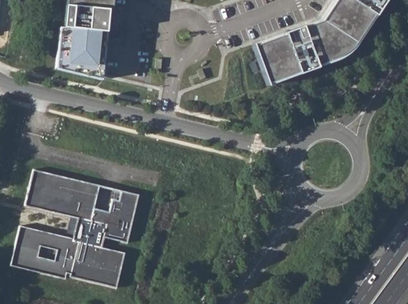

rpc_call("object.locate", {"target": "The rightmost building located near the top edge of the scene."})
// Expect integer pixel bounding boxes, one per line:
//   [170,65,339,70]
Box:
[252,0,390,86]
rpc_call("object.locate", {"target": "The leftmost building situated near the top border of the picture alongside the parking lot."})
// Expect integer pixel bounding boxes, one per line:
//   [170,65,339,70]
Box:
[52,0,117,81]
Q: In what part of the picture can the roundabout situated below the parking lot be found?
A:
right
